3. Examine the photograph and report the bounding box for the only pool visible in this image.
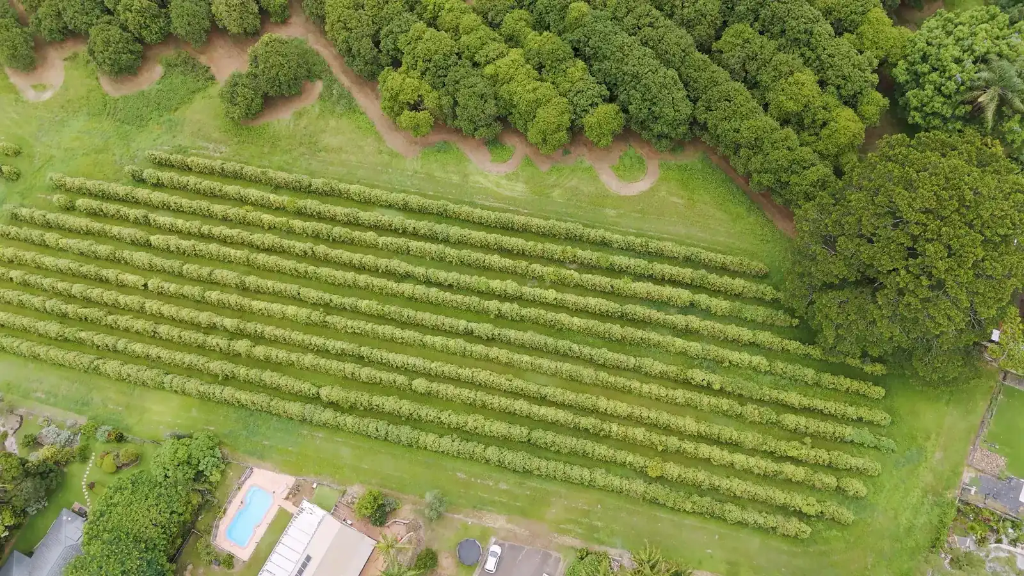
[216,468,298,561]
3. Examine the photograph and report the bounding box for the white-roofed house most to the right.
[256,500,378,576]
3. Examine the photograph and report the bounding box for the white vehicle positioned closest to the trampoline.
[484,543,502,575]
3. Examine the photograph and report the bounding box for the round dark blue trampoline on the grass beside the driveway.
[457,539,482,565]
